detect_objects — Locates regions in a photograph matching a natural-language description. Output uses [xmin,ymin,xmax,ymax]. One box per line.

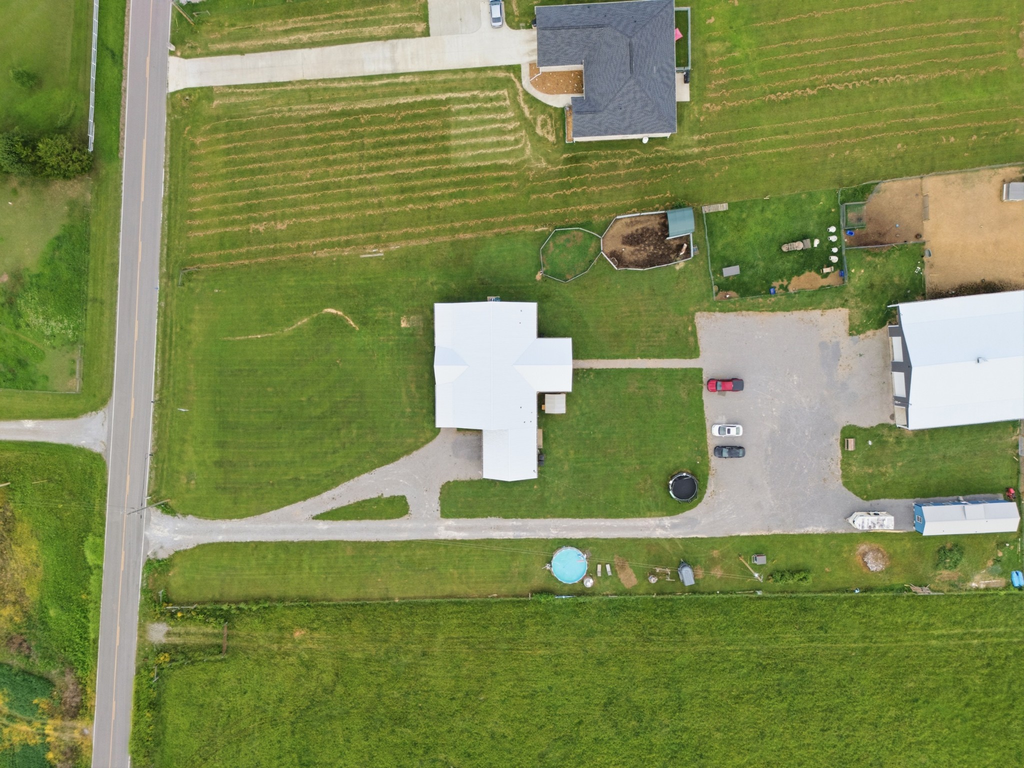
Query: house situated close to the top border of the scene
[530,0,677,143]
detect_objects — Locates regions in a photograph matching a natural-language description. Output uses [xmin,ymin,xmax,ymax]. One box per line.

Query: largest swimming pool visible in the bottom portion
[551,547,588,585]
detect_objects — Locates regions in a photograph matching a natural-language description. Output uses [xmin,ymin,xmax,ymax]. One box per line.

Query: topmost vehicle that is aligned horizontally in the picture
[706,378,744,393]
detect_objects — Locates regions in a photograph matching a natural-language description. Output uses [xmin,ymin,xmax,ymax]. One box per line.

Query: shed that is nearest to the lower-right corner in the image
[912,498,1021,535]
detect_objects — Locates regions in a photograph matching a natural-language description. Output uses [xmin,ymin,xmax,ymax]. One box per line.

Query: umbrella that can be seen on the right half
[673,22,686,40]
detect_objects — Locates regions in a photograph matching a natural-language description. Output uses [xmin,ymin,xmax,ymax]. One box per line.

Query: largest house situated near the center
[434,302,573,480]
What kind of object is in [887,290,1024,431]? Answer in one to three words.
barn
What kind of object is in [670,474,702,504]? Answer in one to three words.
trampoline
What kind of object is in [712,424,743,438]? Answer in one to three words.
car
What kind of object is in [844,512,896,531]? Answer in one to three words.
vehicle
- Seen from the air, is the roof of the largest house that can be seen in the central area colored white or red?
white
